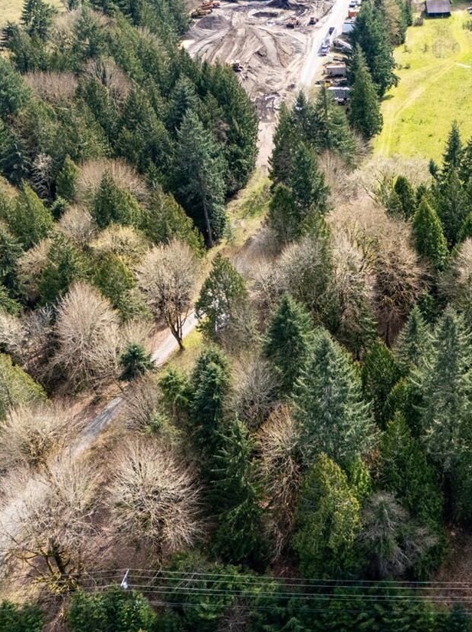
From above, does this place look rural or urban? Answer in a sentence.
The land in this view is best described as rural.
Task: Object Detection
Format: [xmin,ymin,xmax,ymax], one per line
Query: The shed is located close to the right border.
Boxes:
[426,1,453,17]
